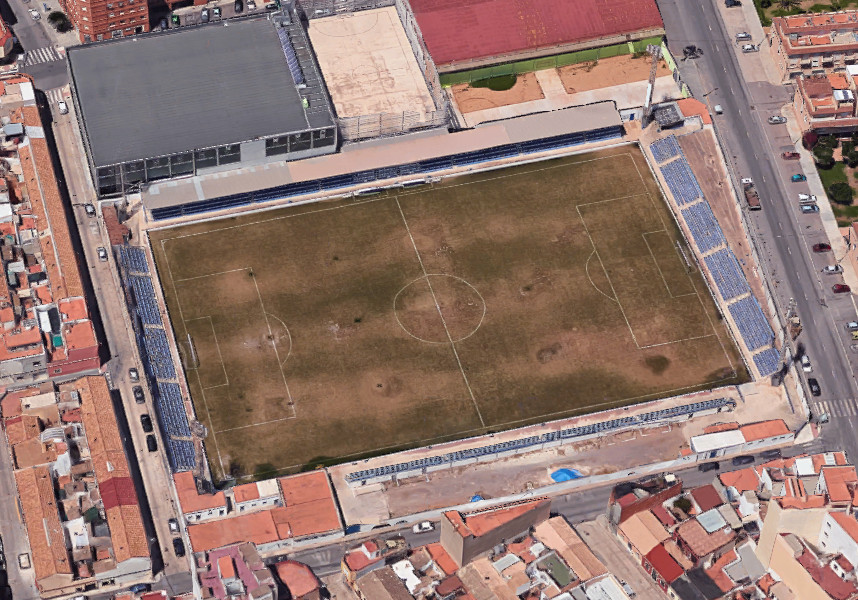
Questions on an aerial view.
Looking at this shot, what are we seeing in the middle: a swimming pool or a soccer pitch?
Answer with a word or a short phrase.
soccer pitch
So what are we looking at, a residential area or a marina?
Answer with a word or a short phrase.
residential area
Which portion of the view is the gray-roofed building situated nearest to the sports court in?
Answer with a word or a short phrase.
top left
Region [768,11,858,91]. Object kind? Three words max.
building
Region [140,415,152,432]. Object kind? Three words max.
vehicle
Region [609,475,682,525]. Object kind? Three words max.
house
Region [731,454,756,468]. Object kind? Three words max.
car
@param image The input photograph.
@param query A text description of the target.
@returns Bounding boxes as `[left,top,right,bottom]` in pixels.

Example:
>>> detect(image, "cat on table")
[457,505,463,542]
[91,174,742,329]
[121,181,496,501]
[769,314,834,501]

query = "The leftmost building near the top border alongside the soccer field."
[62,6,340,201]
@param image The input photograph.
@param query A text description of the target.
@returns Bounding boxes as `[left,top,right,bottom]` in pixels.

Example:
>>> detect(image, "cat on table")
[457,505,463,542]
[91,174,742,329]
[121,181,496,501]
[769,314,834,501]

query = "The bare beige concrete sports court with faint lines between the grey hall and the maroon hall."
[305,8,443,137]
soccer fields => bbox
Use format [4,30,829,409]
[147,142,754,492]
